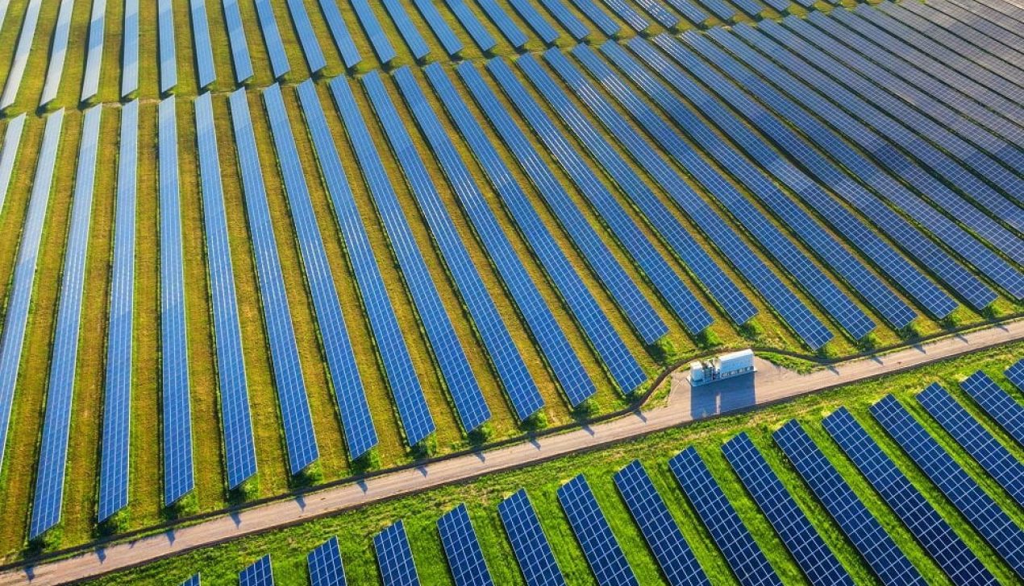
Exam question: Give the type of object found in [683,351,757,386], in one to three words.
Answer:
building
